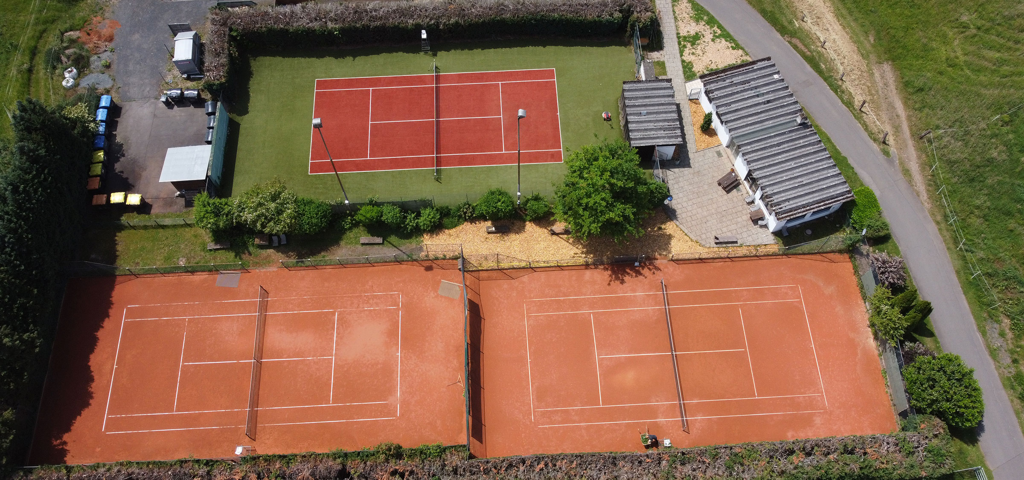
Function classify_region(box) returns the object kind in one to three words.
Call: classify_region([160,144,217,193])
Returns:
shed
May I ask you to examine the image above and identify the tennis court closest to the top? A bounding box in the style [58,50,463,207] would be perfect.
[223,30,662,210]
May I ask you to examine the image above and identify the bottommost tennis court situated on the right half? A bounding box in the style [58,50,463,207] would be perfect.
[463,254,897,480]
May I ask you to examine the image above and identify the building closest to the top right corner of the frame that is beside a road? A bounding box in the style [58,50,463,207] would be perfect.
[701,57,853,232]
